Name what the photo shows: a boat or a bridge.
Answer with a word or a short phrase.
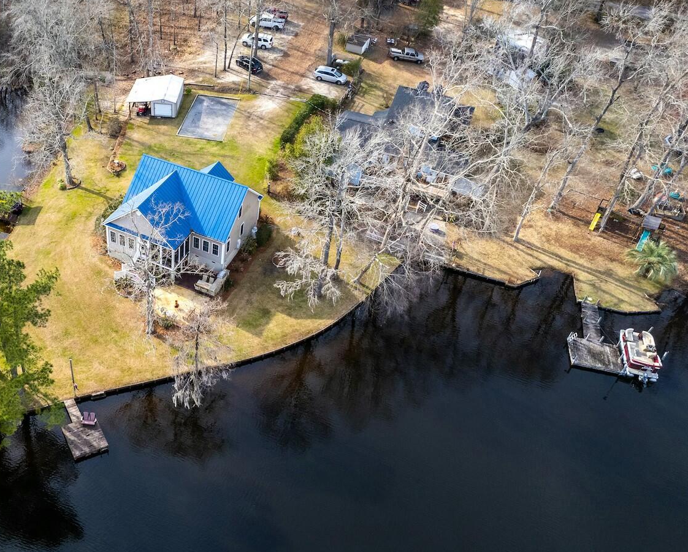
boat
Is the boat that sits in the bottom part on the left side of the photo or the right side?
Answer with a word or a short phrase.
right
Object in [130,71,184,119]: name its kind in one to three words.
building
